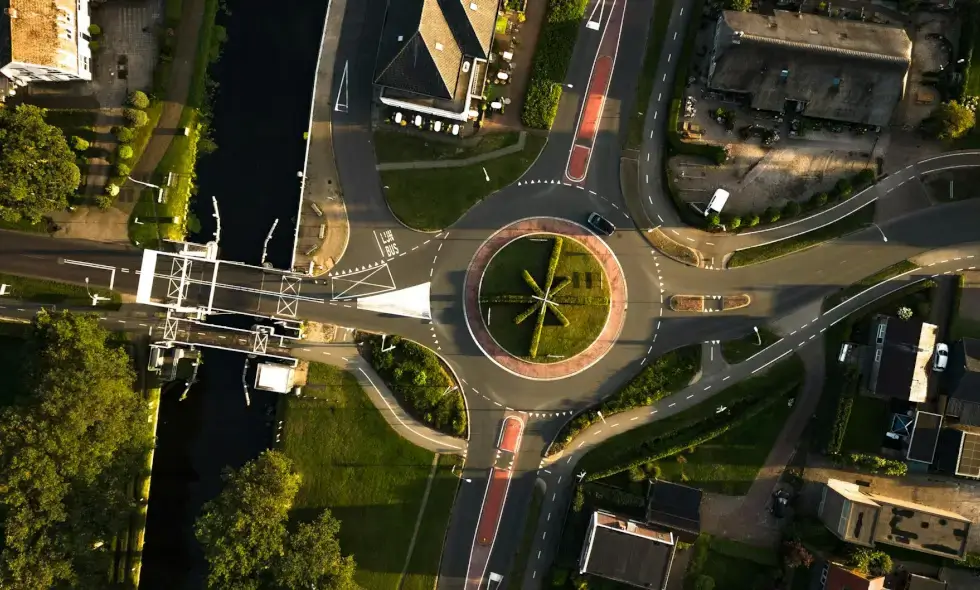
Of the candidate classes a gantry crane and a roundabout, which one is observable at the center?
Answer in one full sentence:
The one visible at the center is a roundabout.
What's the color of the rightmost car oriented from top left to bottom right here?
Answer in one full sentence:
The rightmost car oriented from top left to bottom right is black.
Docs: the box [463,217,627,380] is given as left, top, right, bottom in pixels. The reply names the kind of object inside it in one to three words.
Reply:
roundabout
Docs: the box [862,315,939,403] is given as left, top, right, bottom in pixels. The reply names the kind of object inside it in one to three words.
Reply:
house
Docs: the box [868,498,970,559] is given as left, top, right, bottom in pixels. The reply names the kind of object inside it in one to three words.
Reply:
building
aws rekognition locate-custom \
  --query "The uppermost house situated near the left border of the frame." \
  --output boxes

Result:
[0,0,93,83]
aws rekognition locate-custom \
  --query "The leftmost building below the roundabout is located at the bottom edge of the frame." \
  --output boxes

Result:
[575,511,672,590]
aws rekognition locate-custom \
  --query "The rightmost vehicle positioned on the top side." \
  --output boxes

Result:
[706,186,731,216]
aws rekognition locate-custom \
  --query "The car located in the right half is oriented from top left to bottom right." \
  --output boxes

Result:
[587,211,616,235]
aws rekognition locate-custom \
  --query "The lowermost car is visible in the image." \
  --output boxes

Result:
[776,491,791,519]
